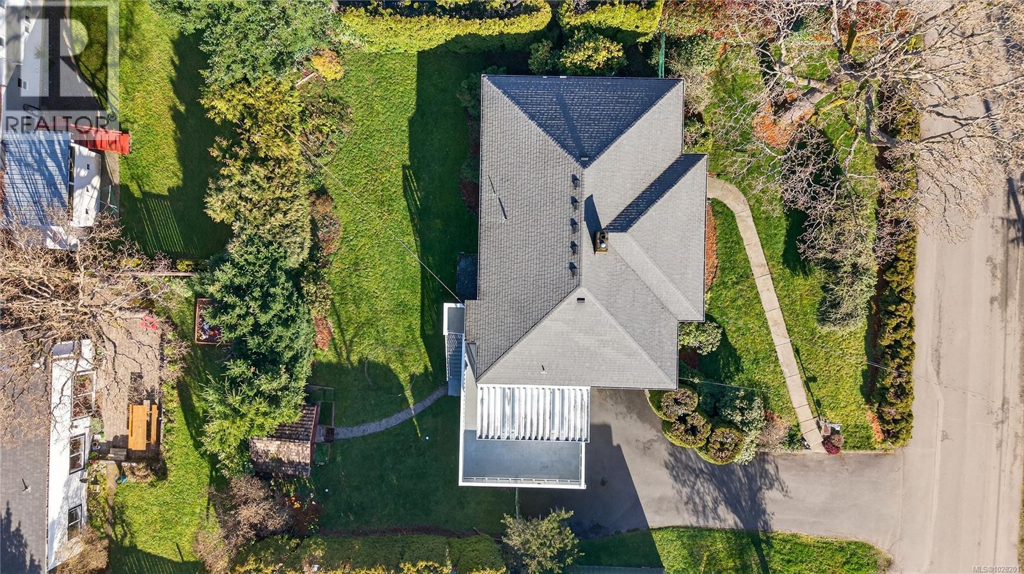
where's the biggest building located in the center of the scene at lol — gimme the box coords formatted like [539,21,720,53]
[440,72,710,488]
